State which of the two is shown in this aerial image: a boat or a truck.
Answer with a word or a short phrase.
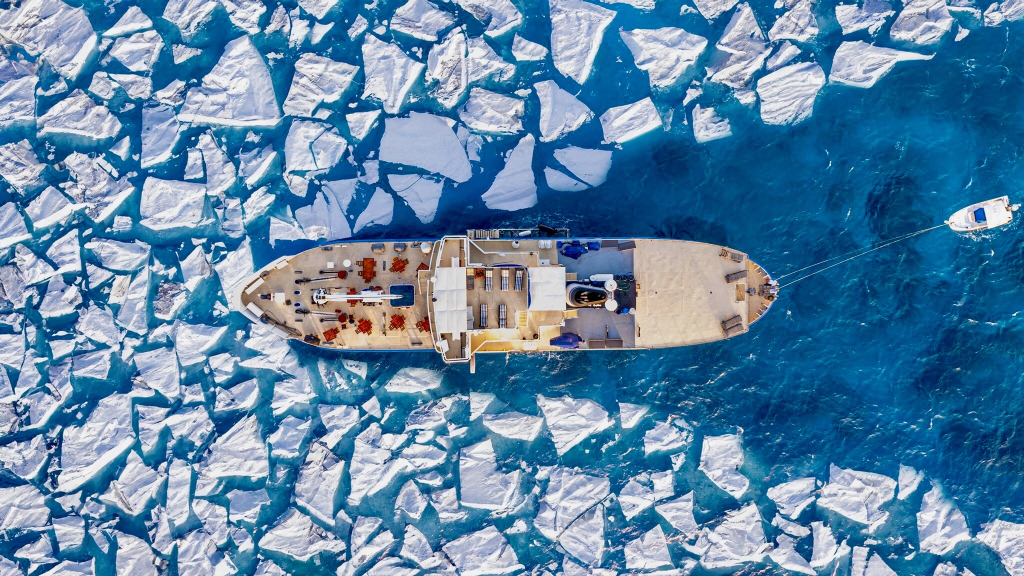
boat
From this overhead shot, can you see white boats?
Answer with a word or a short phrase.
Yes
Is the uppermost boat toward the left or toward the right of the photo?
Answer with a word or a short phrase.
right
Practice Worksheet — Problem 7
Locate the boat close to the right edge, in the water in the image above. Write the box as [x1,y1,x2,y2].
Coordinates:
[944,195,1022,231]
